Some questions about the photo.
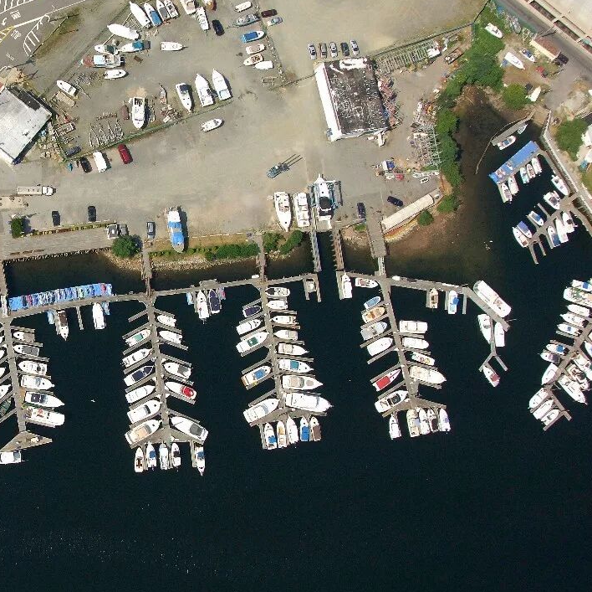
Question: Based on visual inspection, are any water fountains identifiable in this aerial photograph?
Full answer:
No, I can't see a single water fountain in this photo.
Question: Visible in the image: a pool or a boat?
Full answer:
The one in the frame is a boat.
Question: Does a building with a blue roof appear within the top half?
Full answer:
No, I see no building with a blue roof within the top half.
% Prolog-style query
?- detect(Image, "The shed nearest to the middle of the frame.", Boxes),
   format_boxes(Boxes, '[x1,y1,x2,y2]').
[381,196,435,234]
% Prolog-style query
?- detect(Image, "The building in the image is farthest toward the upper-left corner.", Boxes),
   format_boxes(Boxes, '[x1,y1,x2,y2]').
[0,87,51,163]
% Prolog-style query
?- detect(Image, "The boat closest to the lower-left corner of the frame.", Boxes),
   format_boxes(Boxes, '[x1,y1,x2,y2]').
[0,451,24,464]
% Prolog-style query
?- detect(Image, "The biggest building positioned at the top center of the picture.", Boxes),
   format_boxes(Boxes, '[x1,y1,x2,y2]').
[313,59,389,144]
